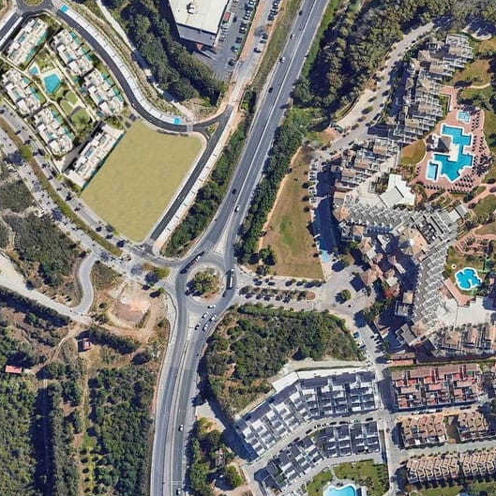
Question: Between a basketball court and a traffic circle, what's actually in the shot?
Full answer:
Of the two, only a traffic circle appears.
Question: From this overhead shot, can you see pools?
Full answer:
Yes, I can see a pool in this picture.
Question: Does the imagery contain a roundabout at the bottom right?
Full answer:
No, I see no roundabout at the bottom right.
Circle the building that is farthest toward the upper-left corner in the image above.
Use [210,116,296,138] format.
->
[7,16,48,65]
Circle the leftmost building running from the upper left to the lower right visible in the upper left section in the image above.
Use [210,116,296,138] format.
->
[1,70,41,113]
